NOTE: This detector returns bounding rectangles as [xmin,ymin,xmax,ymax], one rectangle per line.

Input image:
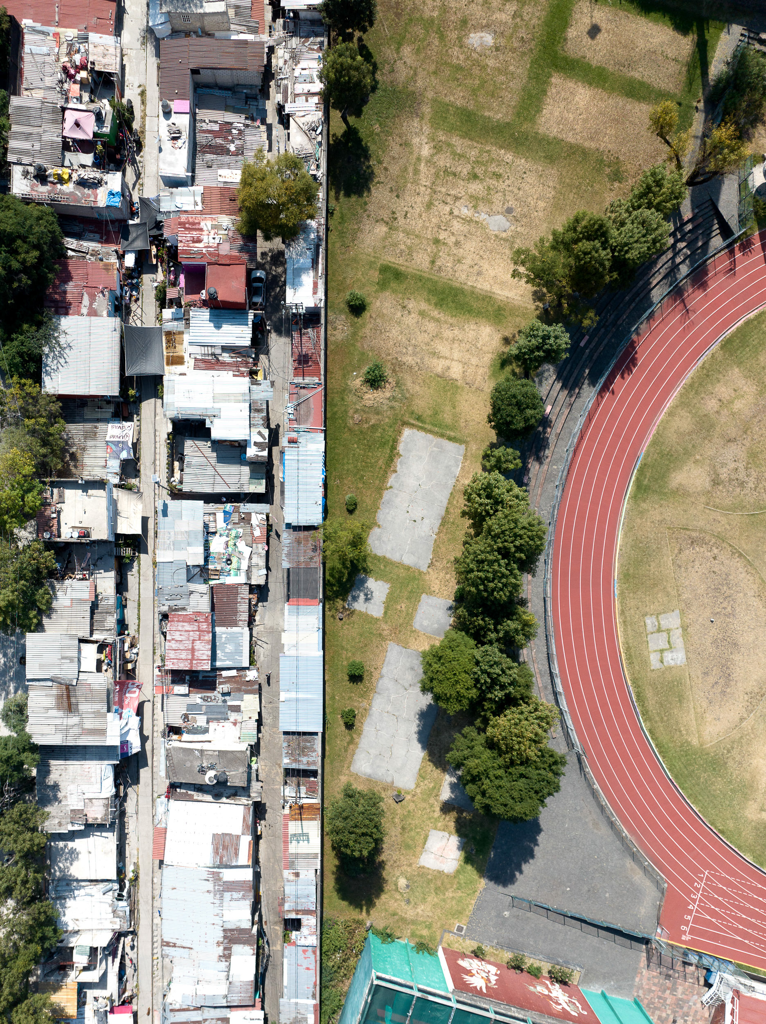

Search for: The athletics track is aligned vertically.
[548,237,766,972]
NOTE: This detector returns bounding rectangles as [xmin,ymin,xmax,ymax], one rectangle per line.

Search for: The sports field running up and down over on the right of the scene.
[617,311,766,873]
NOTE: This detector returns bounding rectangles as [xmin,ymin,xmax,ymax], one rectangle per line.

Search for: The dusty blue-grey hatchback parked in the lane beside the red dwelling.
[249,270,266,310]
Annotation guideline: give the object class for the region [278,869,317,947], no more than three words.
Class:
house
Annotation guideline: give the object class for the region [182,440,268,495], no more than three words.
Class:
house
